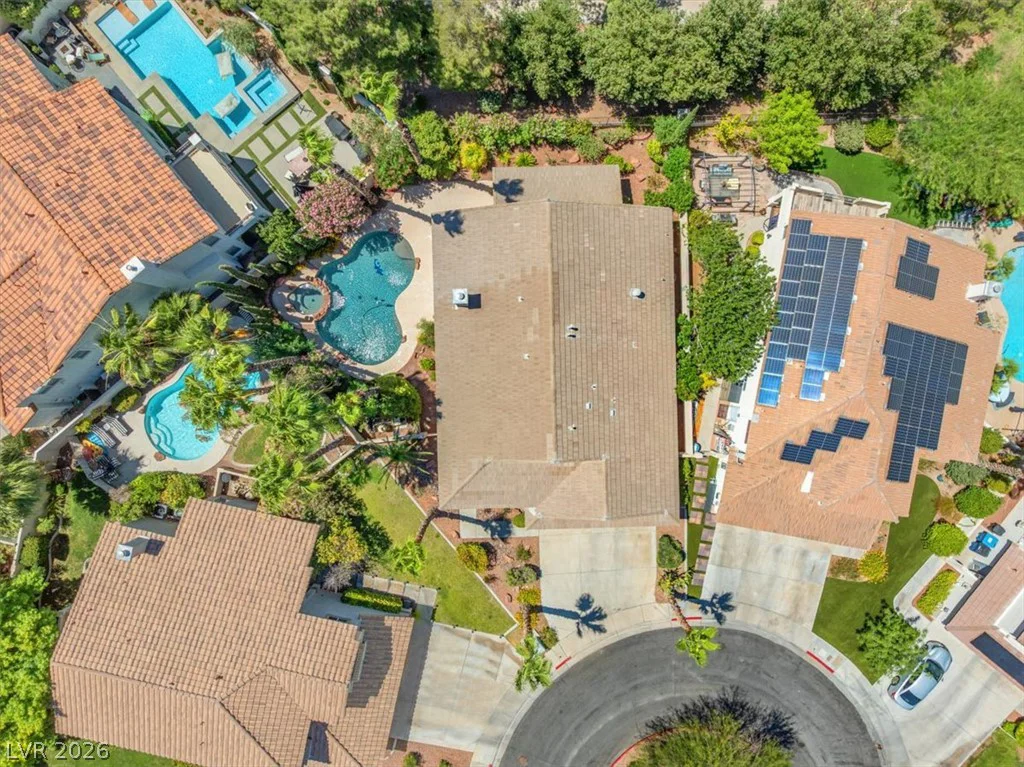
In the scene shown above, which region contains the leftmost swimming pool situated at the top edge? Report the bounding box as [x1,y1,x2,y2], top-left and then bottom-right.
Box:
[93,0,258,141]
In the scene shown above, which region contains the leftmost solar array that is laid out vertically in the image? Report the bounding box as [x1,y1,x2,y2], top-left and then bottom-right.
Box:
[757,218,868,406]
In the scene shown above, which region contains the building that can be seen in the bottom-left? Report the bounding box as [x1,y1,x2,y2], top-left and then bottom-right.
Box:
[48,496,413,767]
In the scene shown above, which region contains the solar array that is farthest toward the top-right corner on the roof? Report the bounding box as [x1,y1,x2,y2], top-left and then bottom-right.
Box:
[897,237,941,299]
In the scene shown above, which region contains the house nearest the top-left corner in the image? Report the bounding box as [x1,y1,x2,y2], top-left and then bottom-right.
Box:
[0,33,272,452]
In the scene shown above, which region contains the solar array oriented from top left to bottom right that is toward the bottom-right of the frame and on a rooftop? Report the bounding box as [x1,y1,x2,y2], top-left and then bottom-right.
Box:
[971,634,1024,689]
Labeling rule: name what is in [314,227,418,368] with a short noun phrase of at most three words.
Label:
swimming pool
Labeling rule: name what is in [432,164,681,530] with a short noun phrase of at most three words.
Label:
house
